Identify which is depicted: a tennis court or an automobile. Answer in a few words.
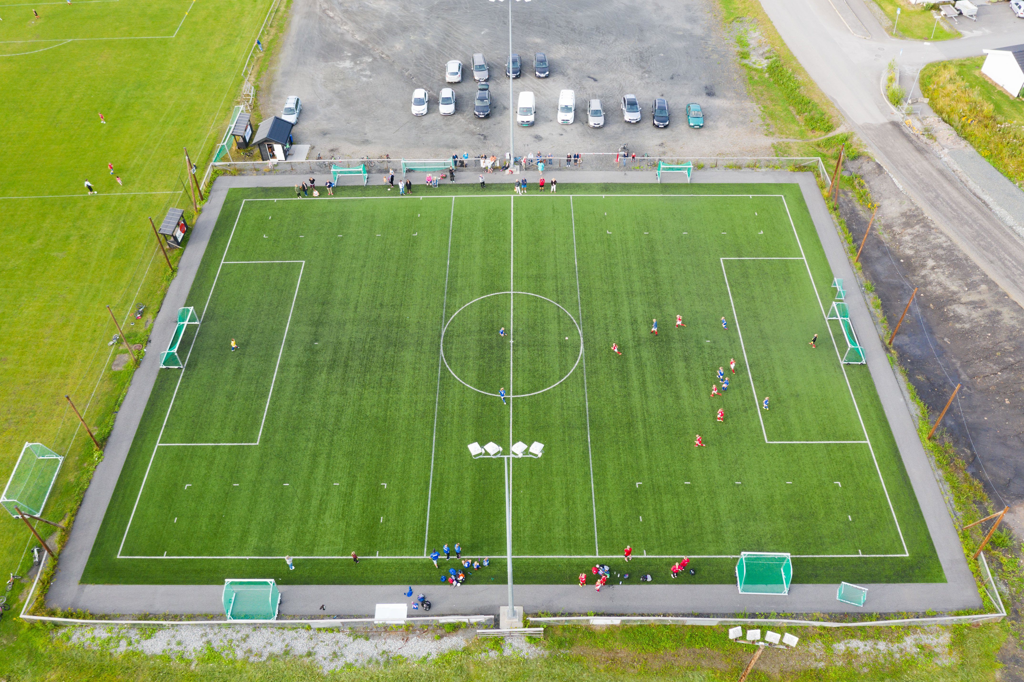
automobile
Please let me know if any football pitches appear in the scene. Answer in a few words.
Yes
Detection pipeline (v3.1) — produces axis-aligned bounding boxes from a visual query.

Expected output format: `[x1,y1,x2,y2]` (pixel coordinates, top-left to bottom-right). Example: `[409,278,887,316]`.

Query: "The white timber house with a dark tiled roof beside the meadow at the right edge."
[982,46,1024,97]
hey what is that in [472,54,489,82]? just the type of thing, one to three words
car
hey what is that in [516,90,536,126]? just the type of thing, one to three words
vehicle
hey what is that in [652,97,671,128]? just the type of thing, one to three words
car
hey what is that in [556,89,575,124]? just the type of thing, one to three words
vehicle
